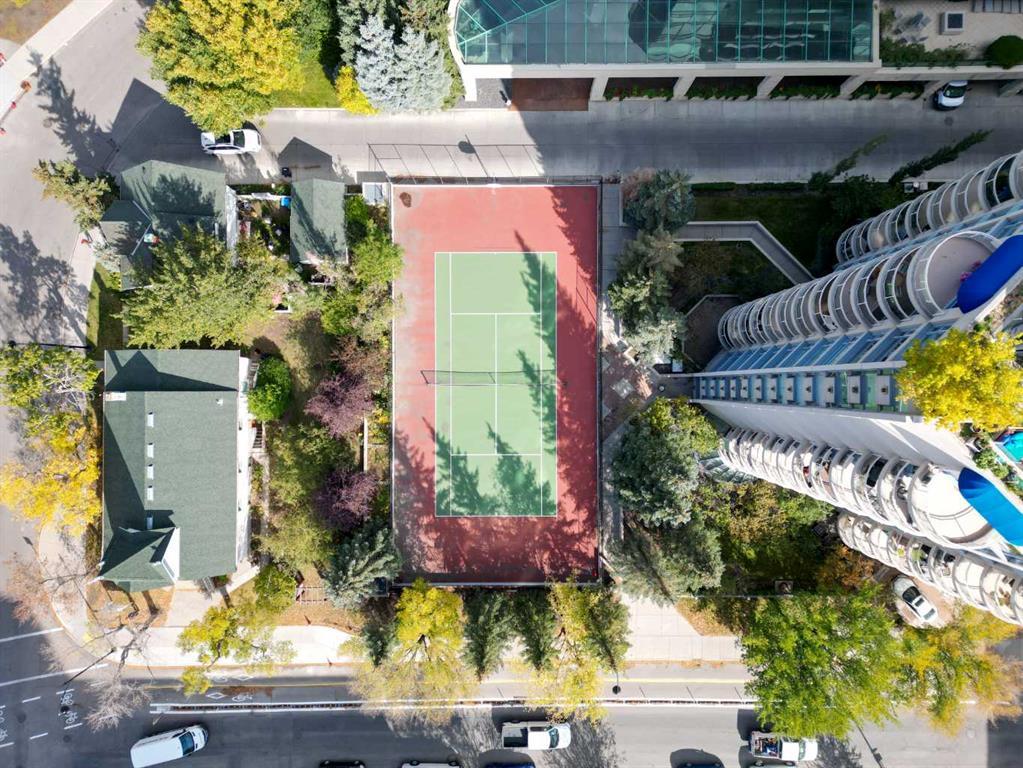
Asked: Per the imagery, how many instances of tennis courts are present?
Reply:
1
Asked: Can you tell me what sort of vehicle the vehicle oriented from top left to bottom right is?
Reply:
automobile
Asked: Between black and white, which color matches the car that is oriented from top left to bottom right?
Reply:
white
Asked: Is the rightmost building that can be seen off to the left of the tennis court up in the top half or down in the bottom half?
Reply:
top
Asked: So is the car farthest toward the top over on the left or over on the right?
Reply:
right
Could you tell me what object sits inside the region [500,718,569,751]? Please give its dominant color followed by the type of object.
white truck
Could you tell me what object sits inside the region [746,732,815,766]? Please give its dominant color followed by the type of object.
white truck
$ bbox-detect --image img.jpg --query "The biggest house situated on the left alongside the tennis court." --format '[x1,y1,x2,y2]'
[87,349,269,589]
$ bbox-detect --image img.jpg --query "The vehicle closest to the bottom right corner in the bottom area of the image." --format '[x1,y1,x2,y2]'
[887,576,939,629]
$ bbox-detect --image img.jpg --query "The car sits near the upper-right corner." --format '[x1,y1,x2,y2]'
[938,79,969,112]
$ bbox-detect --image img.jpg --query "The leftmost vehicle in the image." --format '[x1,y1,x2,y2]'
[127,723,211,768]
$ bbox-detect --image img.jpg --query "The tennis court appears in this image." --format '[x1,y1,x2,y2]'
[390,182,603,585]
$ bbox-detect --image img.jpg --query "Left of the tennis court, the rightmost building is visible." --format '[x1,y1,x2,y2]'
[290,179,350,265]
